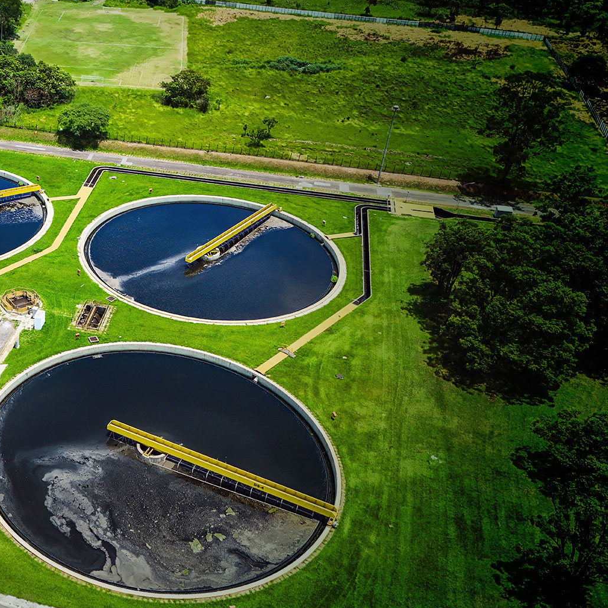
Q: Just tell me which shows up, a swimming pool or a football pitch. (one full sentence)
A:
I can see a football pitch in this picture.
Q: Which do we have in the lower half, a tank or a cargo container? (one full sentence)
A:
What appears in the lower half is a tank.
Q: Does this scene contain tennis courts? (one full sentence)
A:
No, no tennis court can be seen from above.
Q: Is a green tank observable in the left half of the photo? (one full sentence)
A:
No, I see no green tank in the left half of the photo.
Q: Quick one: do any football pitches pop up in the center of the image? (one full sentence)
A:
No, there is no football pitch in the center of the image.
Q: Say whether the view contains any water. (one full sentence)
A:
Yes, some water is visible.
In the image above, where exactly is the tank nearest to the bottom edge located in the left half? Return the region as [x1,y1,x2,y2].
[0,342,346,607]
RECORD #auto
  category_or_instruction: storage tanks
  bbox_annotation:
[75,194,348,329]
[0,342,346,607]
[0,170,53,262]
